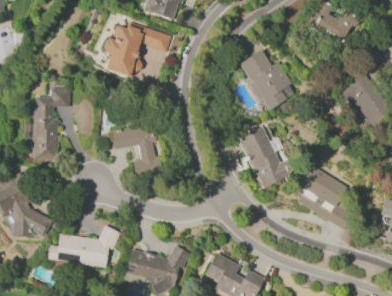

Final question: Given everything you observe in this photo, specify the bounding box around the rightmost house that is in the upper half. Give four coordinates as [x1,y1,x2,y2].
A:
[342,74,390,126]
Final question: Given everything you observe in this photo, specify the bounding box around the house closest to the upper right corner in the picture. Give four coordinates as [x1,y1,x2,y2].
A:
[314,1,358,38]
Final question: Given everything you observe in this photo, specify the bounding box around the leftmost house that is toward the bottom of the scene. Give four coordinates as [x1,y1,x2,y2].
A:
[0,176,51,240]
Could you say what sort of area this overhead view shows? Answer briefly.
residential area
